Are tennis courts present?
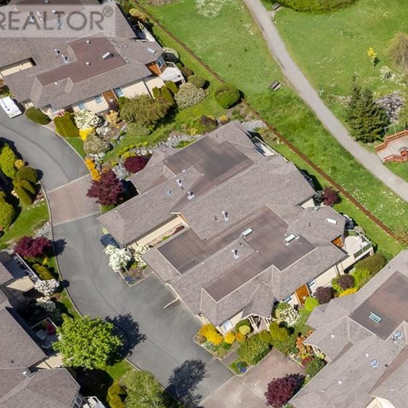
No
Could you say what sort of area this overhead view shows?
residential area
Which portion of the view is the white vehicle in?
top left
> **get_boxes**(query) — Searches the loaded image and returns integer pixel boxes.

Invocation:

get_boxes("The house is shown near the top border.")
[0,0,188,125]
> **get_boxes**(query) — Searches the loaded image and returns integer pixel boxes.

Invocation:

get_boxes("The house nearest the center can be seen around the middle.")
[95,118,374,335]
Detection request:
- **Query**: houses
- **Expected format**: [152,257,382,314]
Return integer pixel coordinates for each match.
[0,248,106,408]
[0,0,188,125]
[95,118,374,335]
[287,253,408,408]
